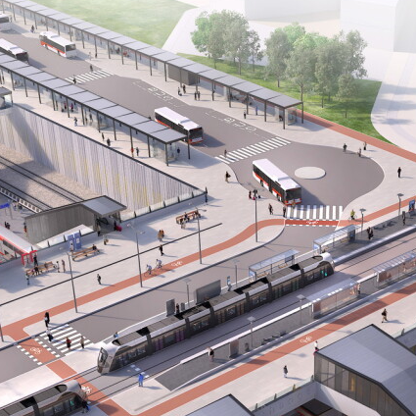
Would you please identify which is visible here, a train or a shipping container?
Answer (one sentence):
The image shows a train.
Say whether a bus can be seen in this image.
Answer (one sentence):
Yes, a bus appears in the view.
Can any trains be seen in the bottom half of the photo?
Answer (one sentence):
Yes, a train can be seen in the bottom half of the photo.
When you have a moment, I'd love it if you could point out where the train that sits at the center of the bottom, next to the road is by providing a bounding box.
[95,255,334,375]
